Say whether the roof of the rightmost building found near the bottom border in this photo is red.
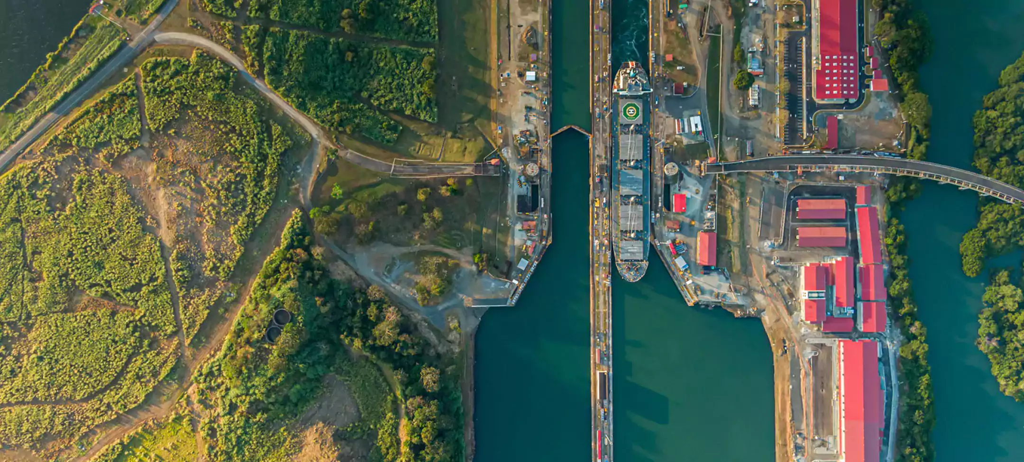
Yes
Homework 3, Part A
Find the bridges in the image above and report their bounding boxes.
[700,156,1024,213]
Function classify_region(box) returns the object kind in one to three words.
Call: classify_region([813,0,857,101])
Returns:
building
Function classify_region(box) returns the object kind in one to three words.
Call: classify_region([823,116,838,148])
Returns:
shed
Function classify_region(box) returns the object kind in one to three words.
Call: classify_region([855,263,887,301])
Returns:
building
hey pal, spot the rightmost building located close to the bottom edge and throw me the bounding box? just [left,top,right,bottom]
[837,340,885,462]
